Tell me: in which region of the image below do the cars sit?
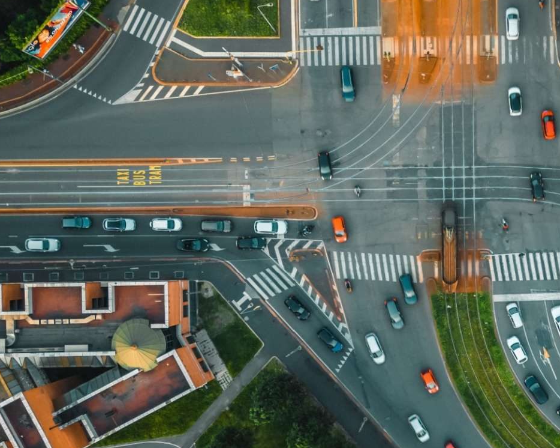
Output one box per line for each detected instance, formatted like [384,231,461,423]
[315,324,345,353]
[364,331,386,366]
[506,301,523,329]
[540,109,556,141]
[551,304,560,341]
[25,236,62,252]
[58,214,92,231]
[101,217,137,233]
[443,438,459,448]
[200,218,232,234]
[407,412,430,445]
[318,151,334,181]
[148,216,183,233]
[506,334,526,366]
[524,371,548,405]
[504,6,521,41]
[400,272,416,306]
[282,294,313,322]
[333,215,349,243]
[340,65,355,104]
[419,367,439,396]
[253,218,288,235]
[177,236,211,252]
[386,297,404,331]
[507,86,523,116]
[235,235,268,252]
[530,170,544,200]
